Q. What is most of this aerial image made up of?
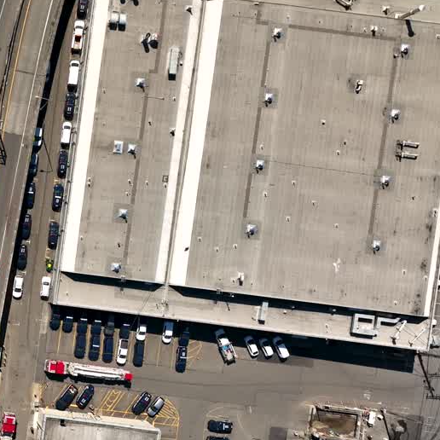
buildings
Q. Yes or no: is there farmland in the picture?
No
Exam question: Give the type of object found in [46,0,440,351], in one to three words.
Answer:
warehouse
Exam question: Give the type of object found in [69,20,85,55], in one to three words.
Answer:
vehicle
